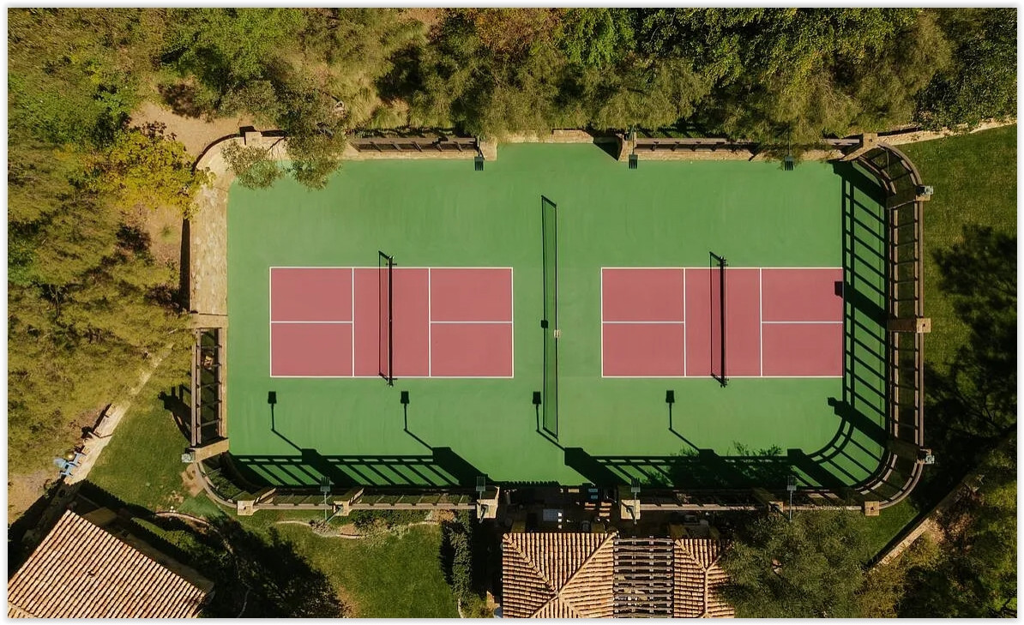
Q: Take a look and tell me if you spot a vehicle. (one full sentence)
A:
No, there isn't any vehicle down there.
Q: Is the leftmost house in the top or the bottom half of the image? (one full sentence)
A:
It is in the bottom half that the leftmost house appears.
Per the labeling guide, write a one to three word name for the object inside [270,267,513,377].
sports court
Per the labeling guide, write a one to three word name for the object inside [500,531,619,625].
building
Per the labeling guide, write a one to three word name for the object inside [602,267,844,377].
sports court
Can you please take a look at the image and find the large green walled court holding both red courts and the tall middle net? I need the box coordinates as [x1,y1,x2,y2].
[227,143,887,490]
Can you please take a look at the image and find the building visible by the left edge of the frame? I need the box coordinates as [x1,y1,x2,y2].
[0,506,225,625]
